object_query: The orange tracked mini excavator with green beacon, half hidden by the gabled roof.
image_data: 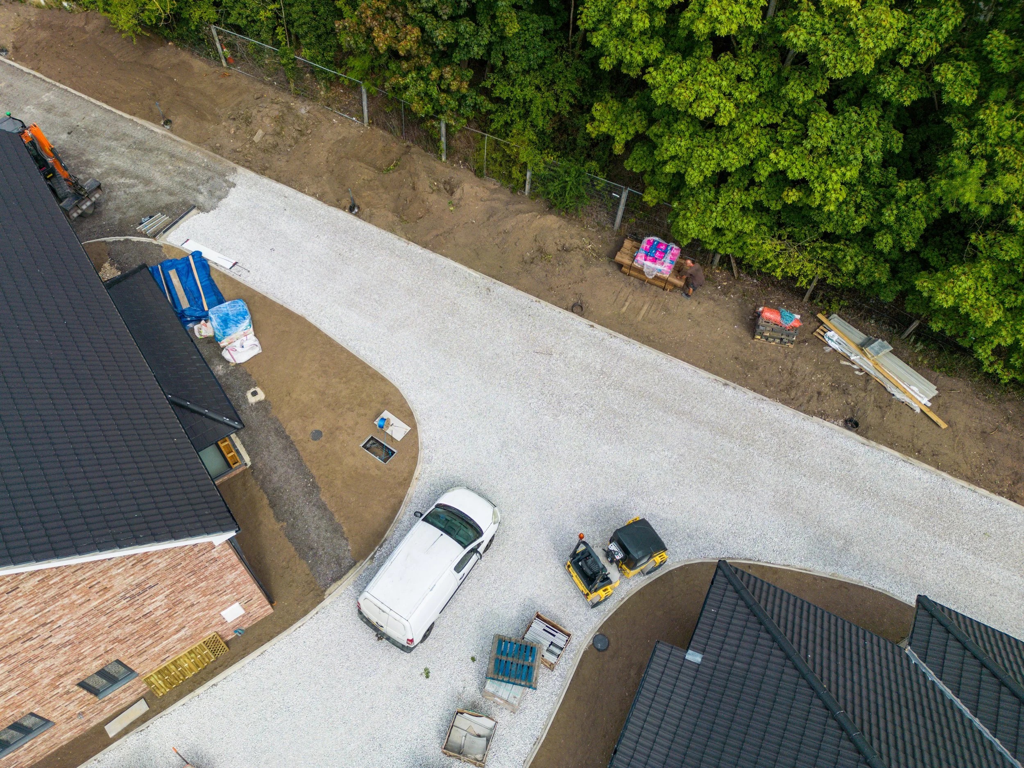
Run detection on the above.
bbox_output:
[0,108,108,220]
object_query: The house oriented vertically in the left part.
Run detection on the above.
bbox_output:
[0,136,273,768]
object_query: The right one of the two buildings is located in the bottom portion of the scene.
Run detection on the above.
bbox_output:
[601,554,1024,768]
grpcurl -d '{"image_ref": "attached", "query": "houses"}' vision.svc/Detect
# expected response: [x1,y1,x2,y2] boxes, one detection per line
[0,136,273,768]
[601,554,1024,768]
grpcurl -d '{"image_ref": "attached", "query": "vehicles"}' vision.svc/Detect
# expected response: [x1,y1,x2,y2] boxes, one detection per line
[354,487,499,653]
[565,519,673,601]
[0,108,108,220]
